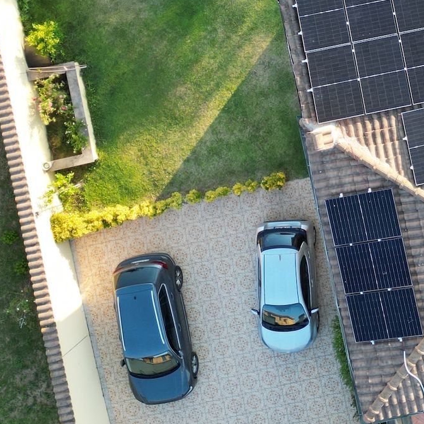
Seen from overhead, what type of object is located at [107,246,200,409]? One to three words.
car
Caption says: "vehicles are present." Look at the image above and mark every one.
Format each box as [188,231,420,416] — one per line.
[107,246,200,409]
[249,217,320,355]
